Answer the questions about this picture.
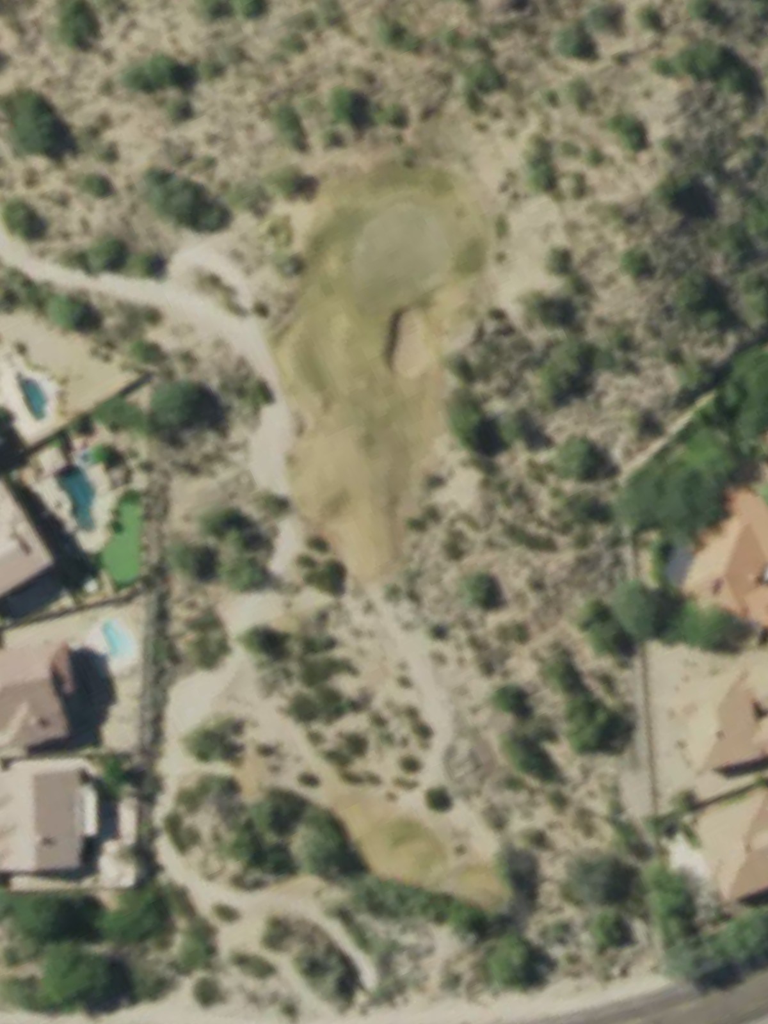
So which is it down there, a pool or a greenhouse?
pool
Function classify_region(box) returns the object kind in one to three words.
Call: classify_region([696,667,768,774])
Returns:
house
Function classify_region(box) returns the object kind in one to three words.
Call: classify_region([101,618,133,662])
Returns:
swimming pool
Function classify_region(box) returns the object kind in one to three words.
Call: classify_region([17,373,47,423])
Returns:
swimming pool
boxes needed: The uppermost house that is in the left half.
[0,483,51,591]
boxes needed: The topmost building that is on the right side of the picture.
[685,489,768,624]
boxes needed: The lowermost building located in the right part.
[704,793,768,905]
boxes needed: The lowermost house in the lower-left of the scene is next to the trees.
[0,771,84,874]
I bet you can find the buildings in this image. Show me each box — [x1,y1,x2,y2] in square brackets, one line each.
[0,771,84,874]
[0,642,75,756]
[696,667,768,774]
[704,793,768,905]
[0,483,51,591]
[685,489,768,624]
